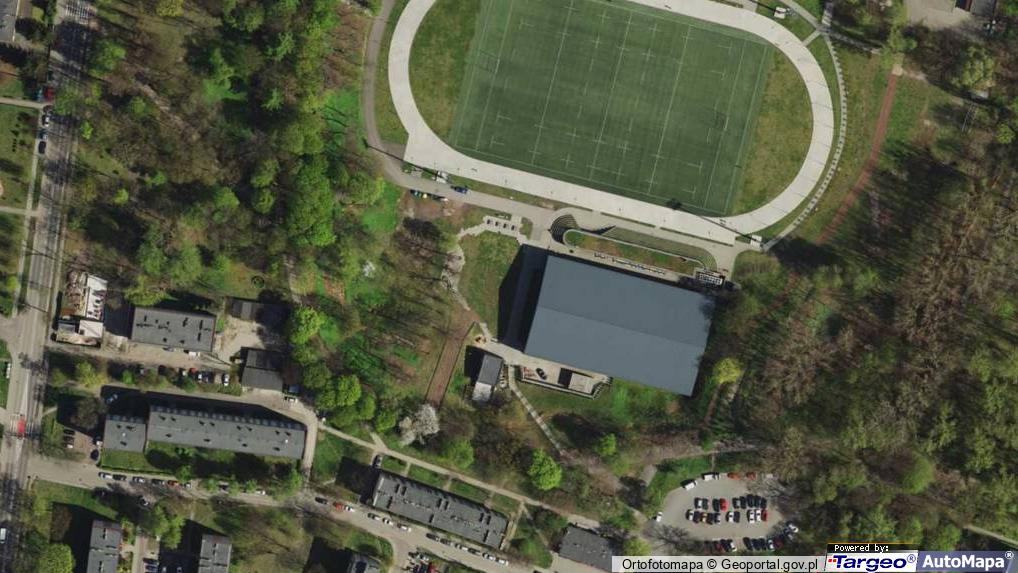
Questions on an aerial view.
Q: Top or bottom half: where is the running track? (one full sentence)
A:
It is in the top half that the running track appears.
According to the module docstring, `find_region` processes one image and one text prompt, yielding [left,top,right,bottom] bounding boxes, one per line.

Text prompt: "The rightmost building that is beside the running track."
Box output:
[523,254,716,397]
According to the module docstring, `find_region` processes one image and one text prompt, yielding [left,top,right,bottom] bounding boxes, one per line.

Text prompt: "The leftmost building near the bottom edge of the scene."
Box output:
[86,522,121,573]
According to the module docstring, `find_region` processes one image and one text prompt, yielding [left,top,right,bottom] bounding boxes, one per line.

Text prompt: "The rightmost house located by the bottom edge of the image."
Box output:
[558,524,616,571]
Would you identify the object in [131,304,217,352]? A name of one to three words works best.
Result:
building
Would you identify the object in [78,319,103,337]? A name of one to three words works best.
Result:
building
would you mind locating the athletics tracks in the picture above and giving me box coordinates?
[390,0,834,246]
